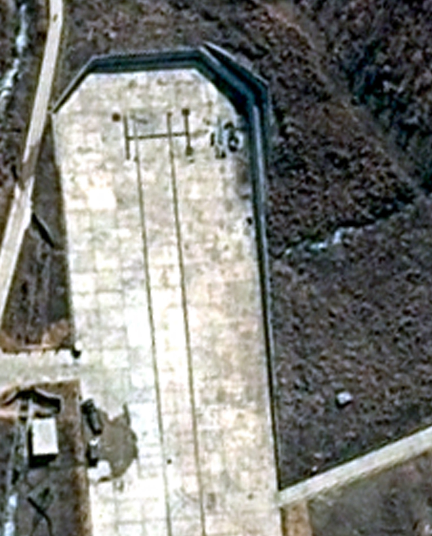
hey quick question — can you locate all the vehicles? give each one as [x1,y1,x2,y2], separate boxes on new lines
[81,398,103,432]
[89,439,100,463]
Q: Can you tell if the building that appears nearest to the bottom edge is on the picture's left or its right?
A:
left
